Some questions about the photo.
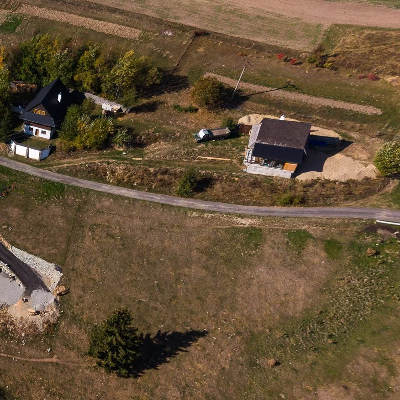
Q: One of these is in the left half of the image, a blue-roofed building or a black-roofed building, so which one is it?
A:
black-roofed building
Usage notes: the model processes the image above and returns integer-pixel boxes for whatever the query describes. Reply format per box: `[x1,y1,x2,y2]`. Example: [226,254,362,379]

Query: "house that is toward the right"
[242,109,308,174]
